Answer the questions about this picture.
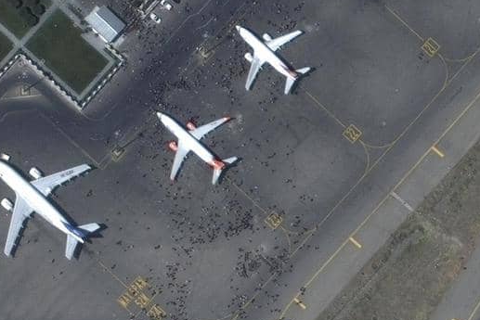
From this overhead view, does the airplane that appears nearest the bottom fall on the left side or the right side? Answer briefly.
left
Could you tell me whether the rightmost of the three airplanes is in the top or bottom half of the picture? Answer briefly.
top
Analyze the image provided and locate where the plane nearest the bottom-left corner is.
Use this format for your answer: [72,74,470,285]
[0,160,100,258]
